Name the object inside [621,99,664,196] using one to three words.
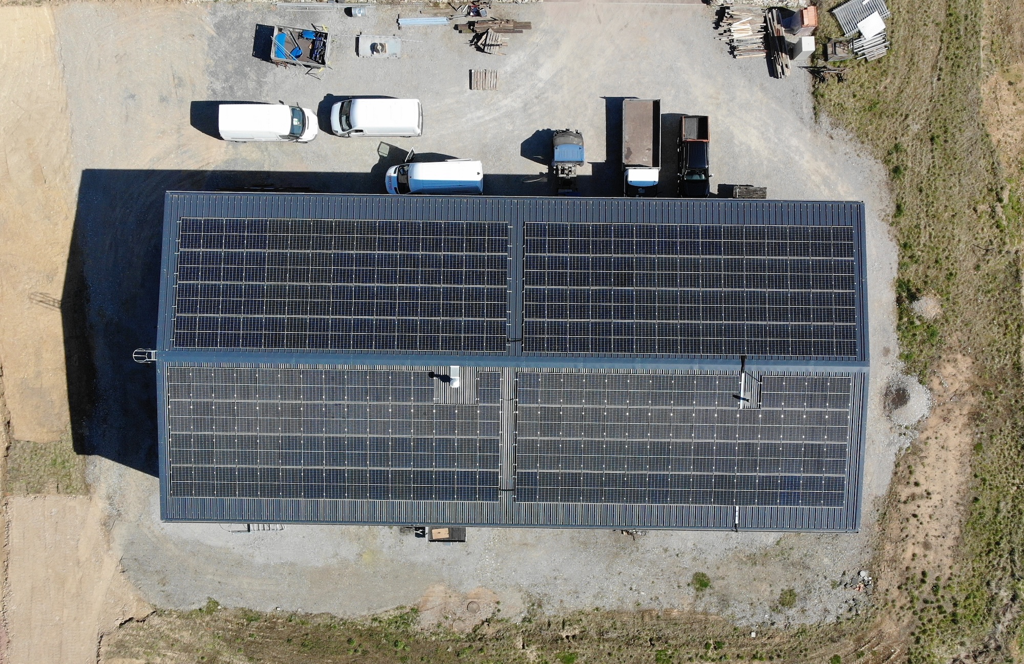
truck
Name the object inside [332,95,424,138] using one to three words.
van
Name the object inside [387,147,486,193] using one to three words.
van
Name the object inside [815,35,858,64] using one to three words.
trailer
